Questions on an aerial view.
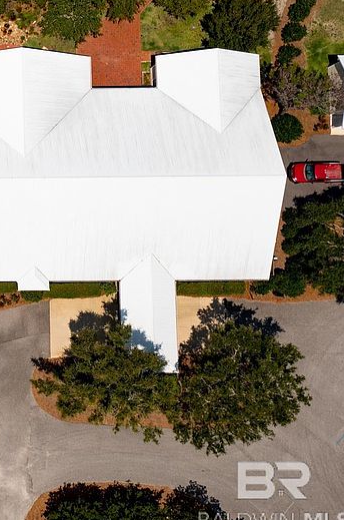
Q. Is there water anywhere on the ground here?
No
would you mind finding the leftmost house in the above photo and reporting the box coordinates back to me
[0,47,286,373]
